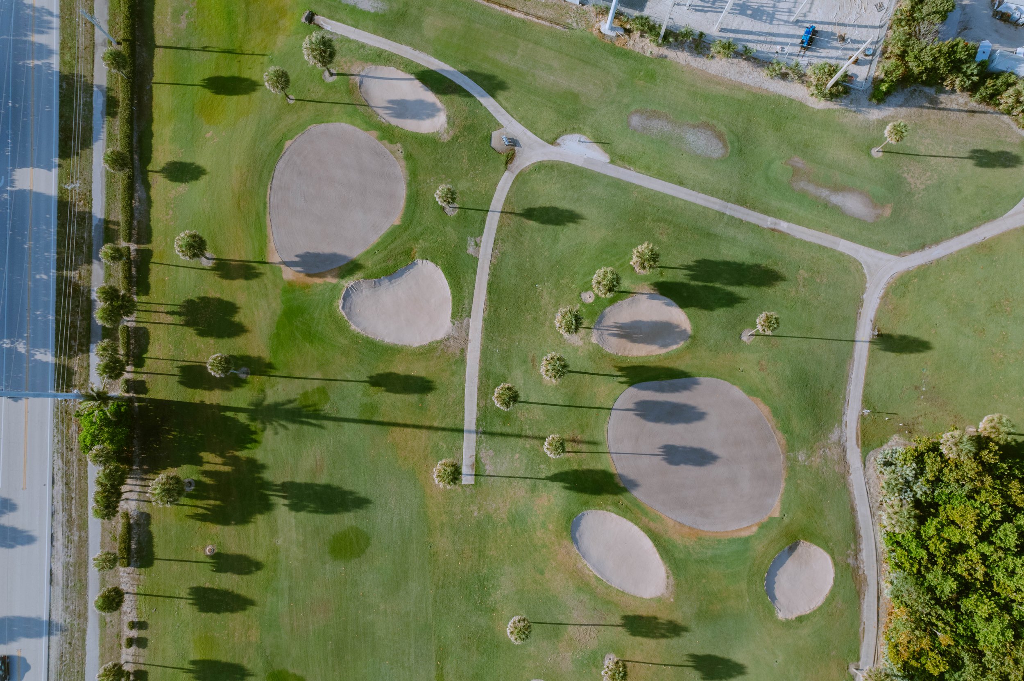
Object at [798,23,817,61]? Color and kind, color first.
blue work vehicle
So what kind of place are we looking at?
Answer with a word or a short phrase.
golf course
